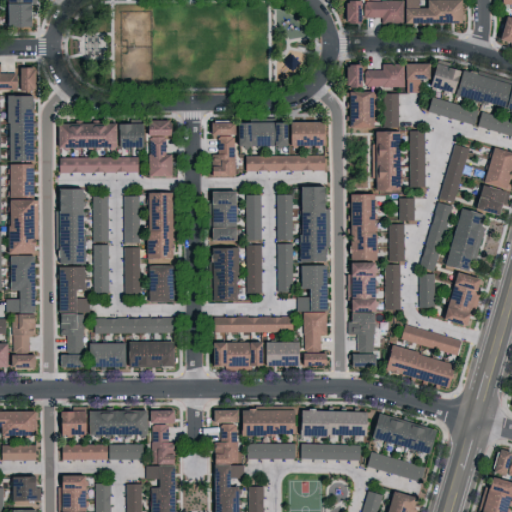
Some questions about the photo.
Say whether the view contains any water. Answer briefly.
No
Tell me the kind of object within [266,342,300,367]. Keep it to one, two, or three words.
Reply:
building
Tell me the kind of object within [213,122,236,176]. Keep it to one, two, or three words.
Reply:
building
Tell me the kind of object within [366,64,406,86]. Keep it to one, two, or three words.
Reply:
house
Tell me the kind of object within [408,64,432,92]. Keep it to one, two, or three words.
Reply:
house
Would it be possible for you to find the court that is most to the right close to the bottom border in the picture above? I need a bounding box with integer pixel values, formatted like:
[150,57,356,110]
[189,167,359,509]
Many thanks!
[290,481,322,512]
